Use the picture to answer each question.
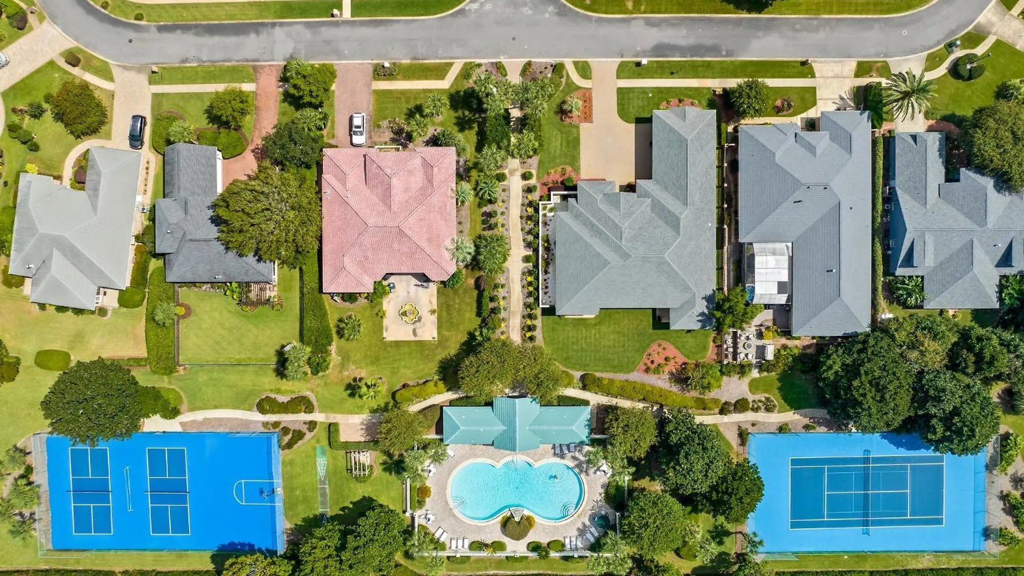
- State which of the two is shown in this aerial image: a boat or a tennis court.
tennis court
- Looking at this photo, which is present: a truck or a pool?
pool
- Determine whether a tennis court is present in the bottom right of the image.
Yes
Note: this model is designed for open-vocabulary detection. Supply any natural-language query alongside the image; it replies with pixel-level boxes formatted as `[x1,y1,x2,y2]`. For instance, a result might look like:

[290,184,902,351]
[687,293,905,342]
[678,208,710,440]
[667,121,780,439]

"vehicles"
[126,115,144,148]
[0,48,11,64]
[350,112,365,145]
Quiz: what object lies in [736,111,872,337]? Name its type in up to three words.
house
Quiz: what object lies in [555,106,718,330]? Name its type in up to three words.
house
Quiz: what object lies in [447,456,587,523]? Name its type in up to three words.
swimming pool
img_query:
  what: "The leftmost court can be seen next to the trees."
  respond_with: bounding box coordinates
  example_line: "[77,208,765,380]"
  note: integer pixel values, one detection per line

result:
[46,431,284,551]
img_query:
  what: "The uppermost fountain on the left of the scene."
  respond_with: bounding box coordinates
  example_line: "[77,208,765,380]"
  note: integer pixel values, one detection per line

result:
[399,303,420,324]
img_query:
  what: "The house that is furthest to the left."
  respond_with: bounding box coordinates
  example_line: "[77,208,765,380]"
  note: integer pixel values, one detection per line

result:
[8,147,148,310]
